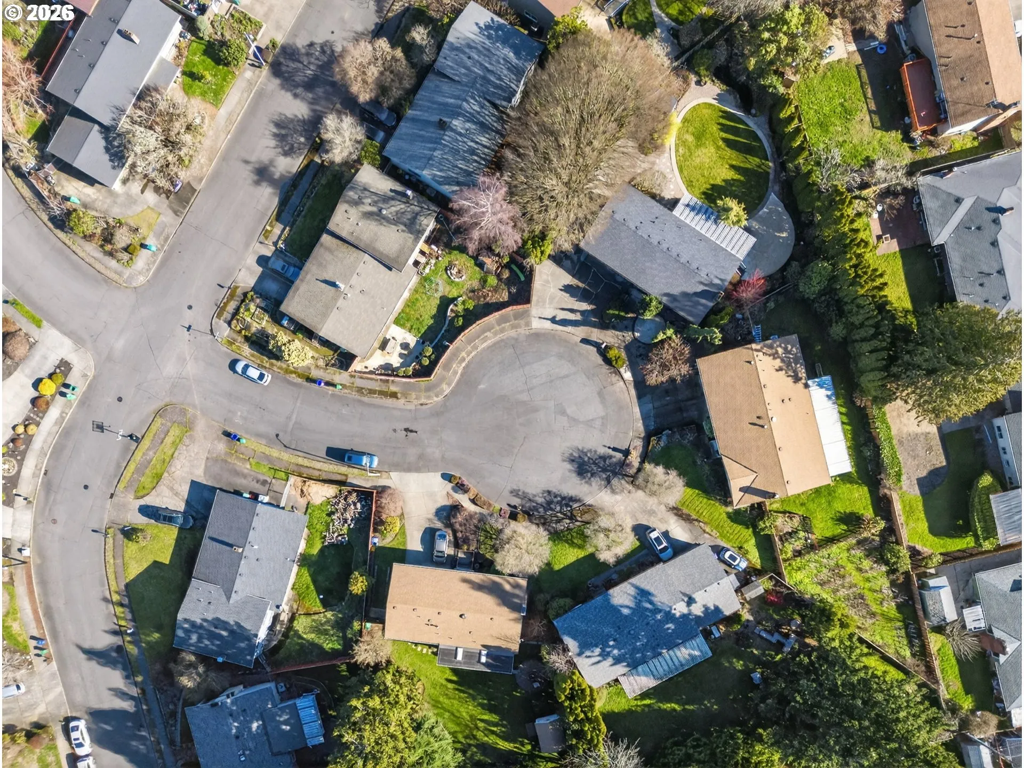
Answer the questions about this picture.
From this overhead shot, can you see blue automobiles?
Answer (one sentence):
Yes, there is a blue automobile in the image.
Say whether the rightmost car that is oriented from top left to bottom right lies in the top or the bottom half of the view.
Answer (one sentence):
Seen from above, the rightmost car that is oriented from top left to bottom right lies in the bottom half of the view.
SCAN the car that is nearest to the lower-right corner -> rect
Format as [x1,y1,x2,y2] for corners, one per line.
[717,545,749,571]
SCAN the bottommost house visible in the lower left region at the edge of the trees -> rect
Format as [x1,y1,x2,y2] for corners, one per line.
[184,674,307,768]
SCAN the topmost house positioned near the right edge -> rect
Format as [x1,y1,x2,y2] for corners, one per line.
[906,0,1024,136]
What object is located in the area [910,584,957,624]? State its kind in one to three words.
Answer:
shed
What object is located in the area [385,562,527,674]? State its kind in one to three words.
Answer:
house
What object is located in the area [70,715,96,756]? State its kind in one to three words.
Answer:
car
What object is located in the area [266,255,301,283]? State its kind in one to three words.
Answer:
car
